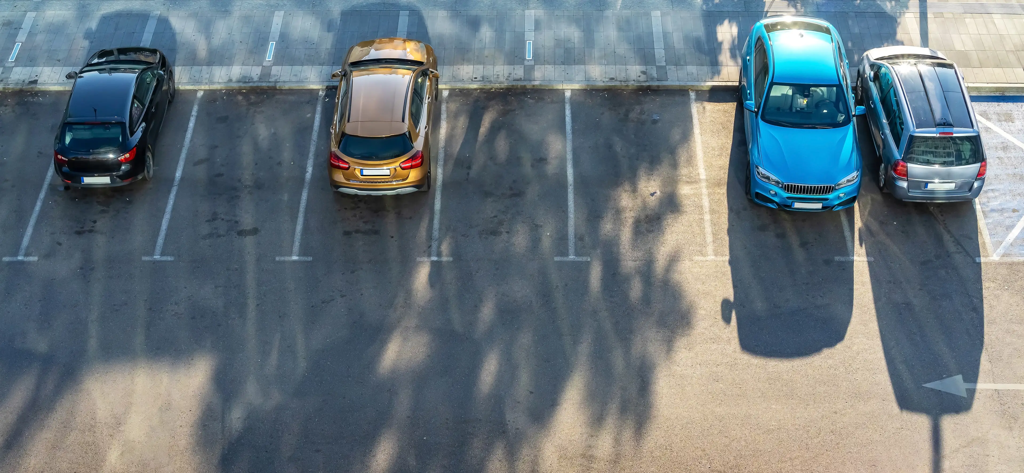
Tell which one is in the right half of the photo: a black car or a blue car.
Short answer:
blue car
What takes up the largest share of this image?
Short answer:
paved ground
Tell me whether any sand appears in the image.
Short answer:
No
